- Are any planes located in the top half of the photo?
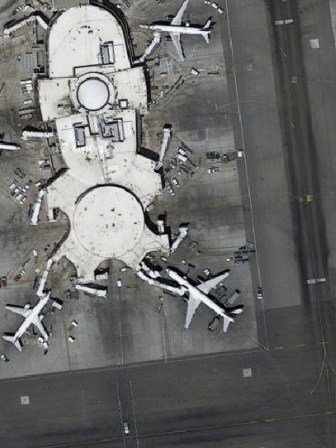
Yes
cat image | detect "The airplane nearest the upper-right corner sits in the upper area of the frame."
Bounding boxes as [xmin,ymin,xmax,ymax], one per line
[150,0,215,61]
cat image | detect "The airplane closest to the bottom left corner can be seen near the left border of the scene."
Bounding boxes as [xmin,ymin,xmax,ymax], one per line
[5,292,50,349]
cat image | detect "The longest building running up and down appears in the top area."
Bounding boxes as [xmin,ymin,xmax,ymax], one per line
[35,4,170,279]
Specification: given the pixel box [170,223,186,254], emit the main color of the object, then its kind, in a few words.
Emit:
white jet bridge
